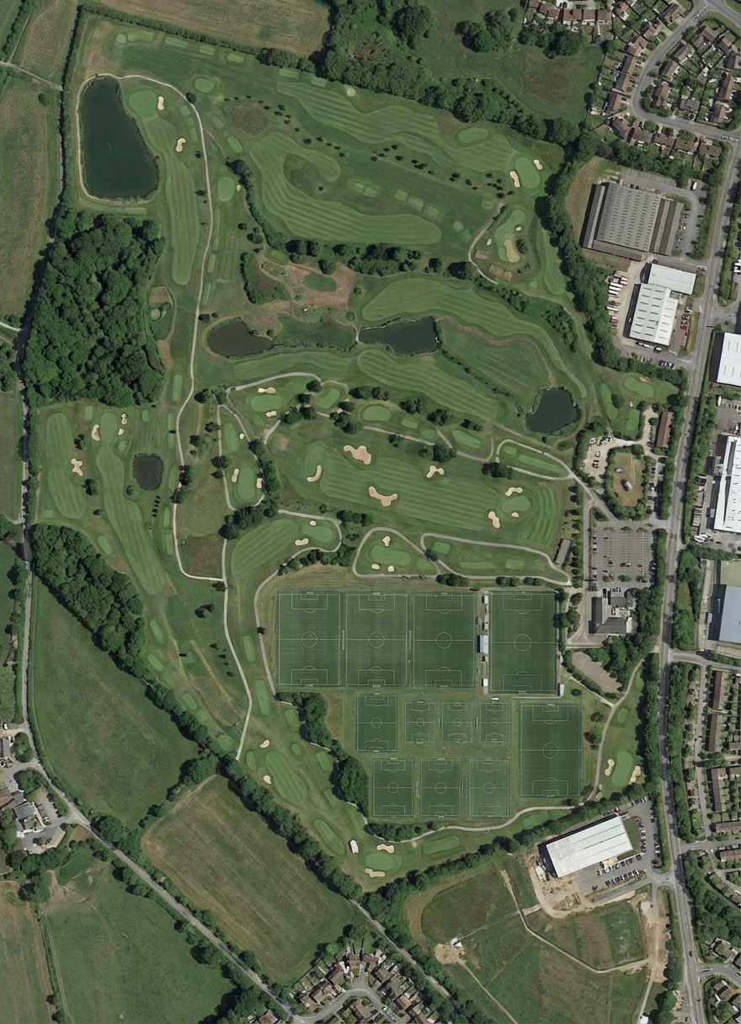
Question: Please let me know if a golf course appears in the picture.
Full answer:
Yes, the image includes a golf course.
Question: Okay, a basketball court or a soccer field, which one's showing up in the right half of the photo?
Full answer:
What appears in the right half of the photo is a soccer field.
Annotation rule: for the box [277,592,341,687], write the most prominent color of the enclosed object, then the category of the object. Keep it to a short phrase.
green soccer field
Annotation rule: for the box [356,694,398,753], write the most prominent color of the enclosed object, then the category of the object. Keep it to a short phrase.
green soccer field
